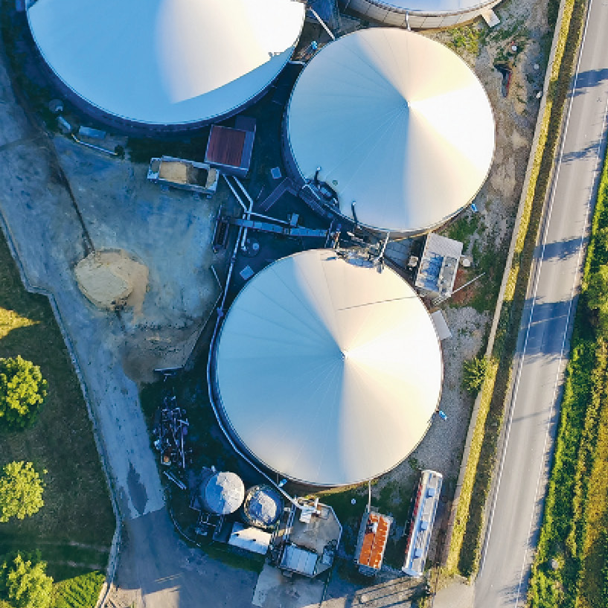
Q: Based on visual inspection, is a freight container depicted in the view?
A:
Yes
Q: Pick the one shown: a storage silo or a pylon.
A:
storage silo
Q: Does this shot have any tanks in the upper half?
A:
Yes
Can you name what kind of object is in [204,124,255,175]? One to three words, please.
building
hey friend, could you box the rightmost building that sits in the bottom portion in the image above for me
[229,523,270,557]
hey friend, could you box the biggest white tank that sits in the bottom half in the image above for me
[210,241,445,490]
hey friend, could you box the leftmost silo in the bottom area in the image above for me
[196,465,247,516]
